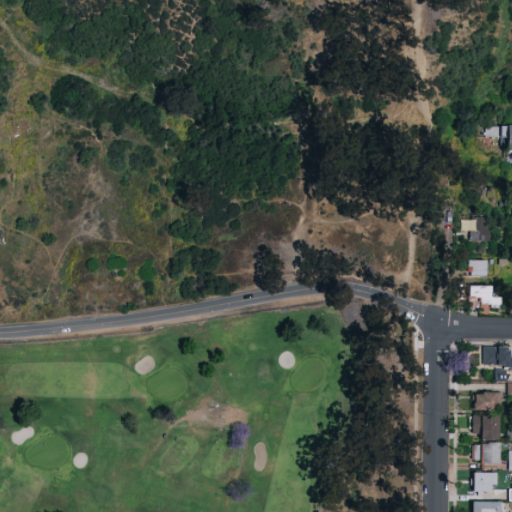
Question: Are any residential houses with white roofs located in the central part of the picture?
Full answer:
No, no residential house with a white roof can be made out in the central part of the picture.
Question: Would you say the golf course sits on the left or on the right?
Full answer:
The golf course sits on the left side.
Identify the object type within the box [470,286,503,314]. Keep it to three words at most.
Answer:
house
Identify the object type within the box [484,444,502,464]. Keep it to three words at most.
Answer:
house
